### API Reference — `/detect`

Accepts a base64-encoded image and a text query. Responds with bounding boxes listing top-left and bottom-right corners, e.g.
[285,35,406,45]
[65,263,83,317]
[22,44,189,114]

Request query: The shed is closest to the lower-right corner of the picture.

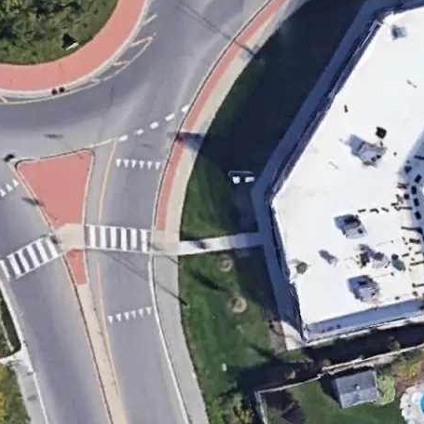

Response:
[333,367,381,408]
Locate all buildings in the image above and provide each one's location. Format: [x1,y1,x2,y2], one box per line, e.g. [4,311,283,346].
[263,0,424,341]
[333,367,381,408]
